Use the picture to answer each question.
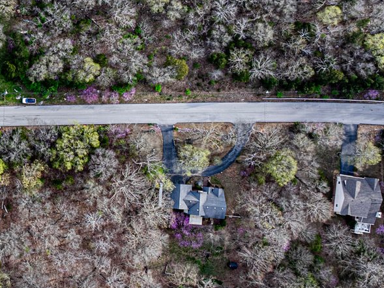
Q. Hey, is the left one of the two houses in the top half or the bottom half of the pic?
bottom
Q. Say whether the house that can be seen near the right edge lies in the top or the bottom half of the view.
bottom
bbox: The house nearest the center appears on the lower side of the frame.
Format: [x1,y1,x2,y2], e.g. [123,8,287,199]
[169,184,228,226]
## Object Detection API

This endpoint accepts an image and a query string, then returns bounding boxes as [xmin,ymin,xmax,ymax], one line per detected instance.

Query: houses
[335,176,383,234]
[169,184,228,226]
